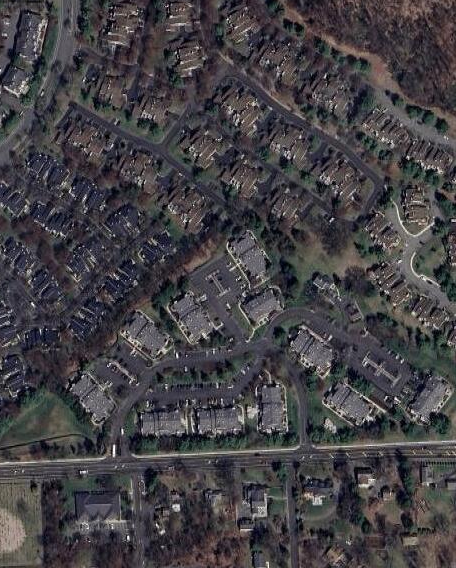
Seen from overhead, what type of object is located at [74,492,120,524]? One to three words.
building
